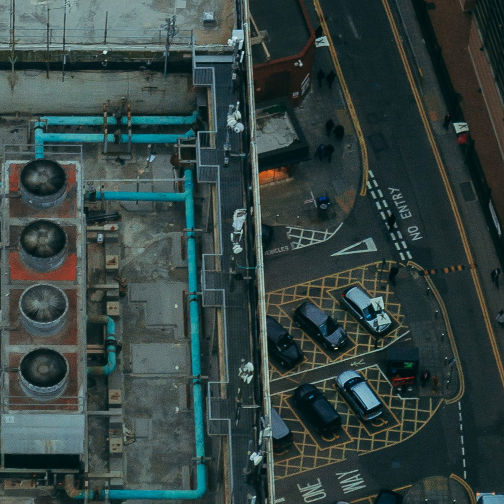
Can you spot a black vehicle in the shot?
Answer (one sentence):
Yes, a black vehicle appears in the view.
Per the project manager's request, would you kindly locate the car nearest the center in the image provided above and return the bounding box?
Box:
[262,219,286,249]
